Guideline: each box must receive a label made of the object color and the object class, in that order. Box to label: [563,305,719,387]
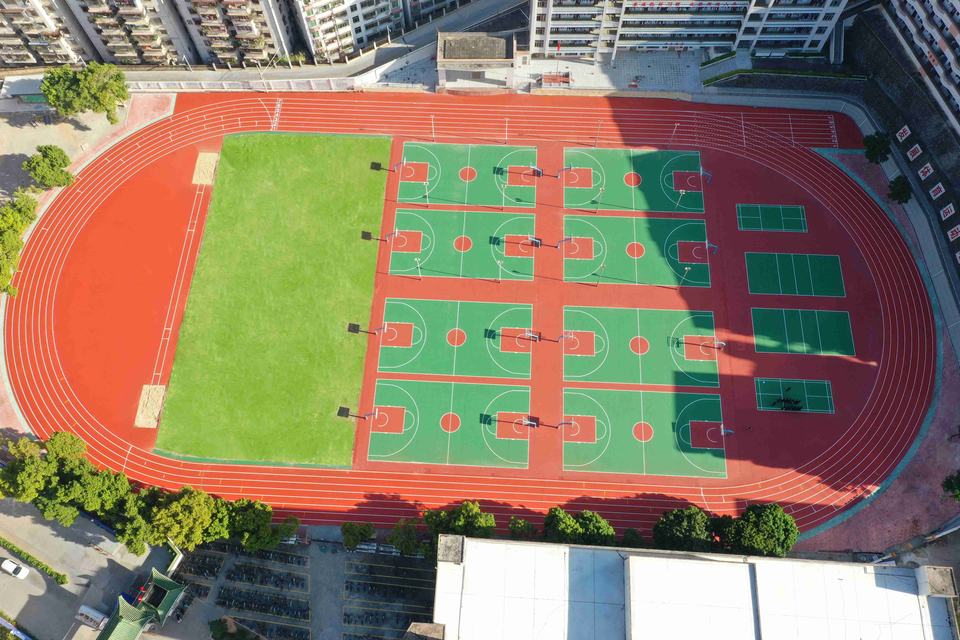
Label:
green basketball court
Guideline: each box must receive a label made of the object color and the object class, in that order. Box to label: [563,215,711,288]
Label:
green basketball court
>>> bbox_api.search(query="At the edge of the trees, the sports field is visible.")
[154,130,391,469]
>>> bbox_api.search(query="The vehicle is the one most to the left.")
[0,558,30,581]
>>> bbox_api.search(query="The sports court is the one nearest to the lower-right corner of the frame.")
[755,378,834,413]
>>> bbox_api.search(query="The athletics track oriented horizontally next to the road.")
[0,92,944,543]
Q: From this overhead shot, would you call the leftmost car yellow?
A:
No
